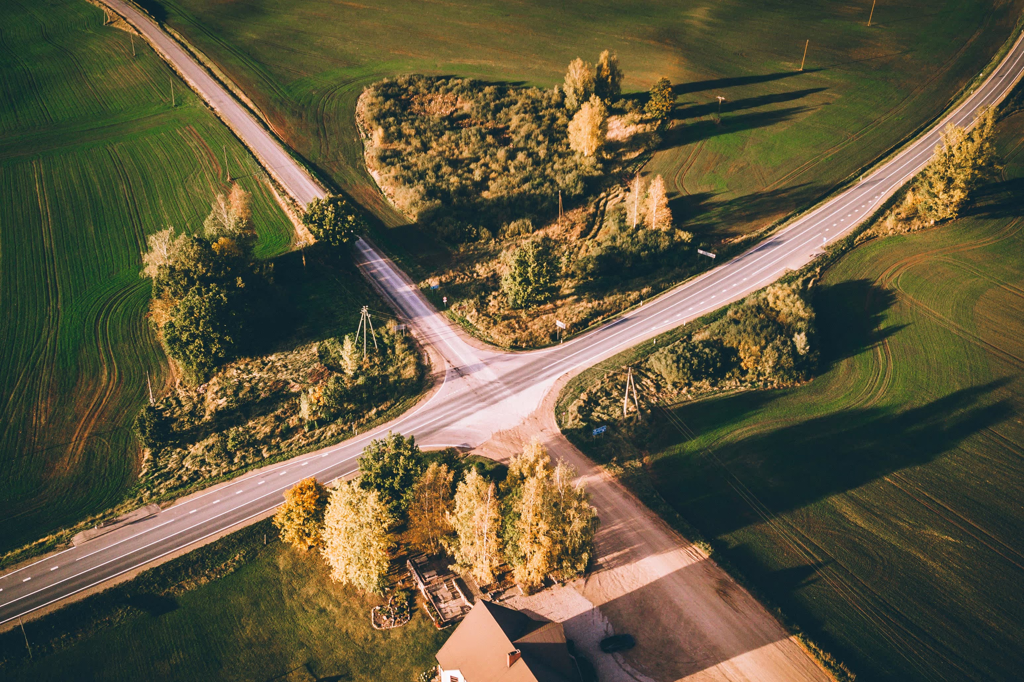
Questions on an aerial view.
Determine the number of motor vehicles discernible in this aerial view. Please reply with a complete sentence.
The photo contains exactly 1 motor vehicle.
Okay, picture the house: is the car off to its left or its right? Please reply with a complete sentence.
Relative to the house, the car is on the right.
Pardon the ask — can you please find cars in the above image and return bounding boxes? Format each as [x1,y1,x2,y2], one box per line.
[600,633,638,655]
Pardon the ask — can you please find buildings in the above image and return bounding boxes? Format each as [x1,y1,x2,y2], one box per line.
[434,598,585,682]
